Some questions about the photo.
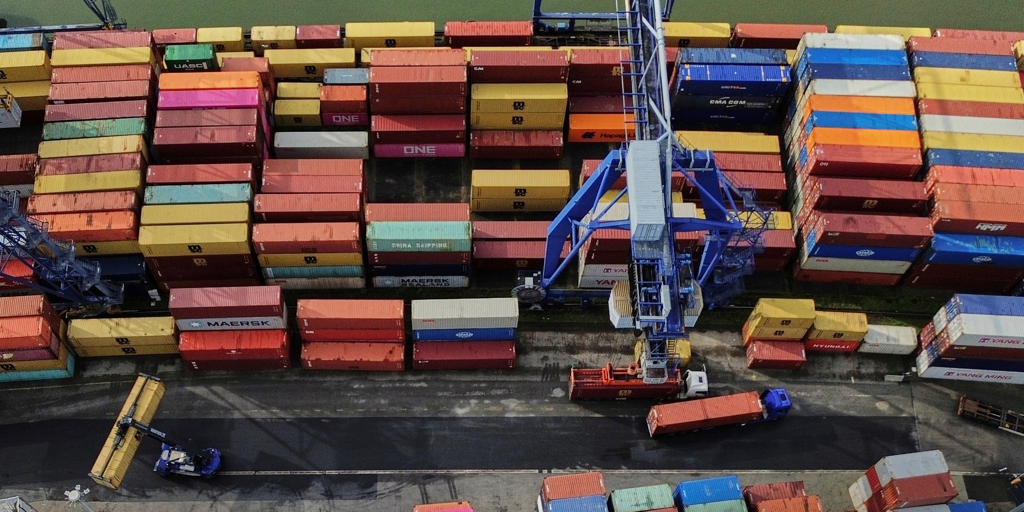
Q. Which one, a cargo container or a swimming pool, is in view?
cargo container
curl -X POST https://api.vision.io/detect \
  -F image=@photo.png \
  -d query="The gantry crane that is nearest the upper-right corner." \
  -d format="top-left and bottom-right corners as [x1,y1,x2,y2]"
[508,0,785,398]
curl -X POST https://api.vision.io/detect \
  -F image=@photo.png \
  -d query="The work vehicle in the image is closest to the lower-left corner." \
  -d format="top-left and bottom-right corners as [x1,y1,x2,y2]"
[119,409,224,477]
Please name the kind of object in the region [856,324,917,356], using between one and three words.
shipping container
